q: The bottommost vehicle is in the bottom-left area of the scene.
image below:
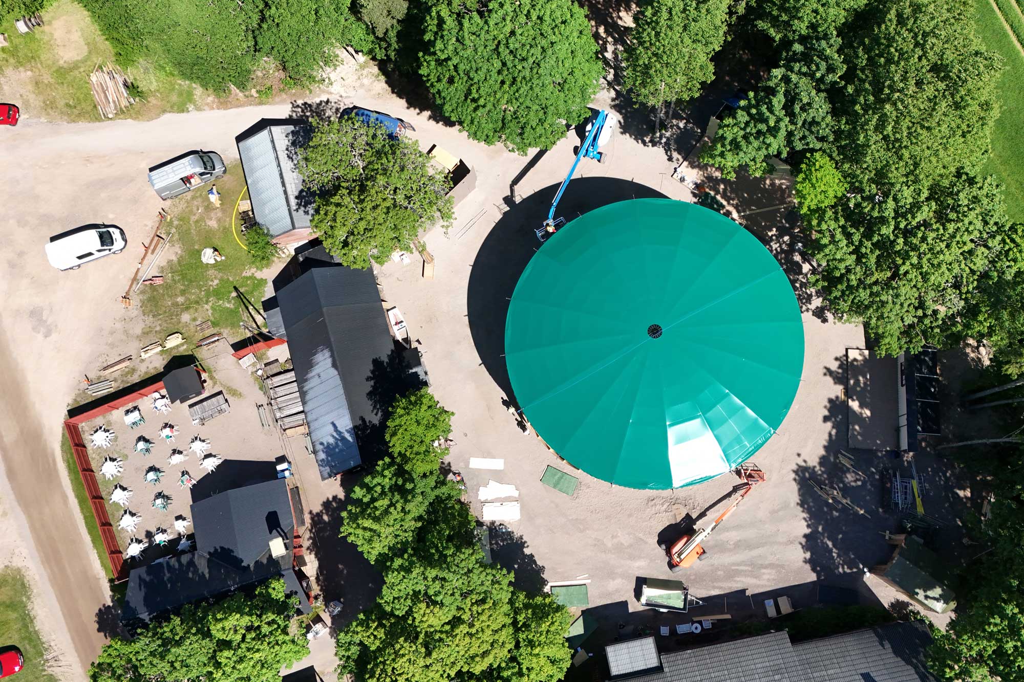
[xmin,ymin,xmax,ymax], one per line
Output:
[0,651,22,679]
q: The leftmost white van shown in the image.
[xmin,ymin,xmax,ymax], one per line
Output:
[43,227,122,270]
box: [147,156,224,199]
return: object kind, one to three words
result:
van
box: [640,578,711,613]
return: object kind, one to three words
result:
trailer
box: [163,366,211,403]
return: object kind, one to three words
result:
shed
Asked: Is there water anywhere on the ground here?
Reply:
No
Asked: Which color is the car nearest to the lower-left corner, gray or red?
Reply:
red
